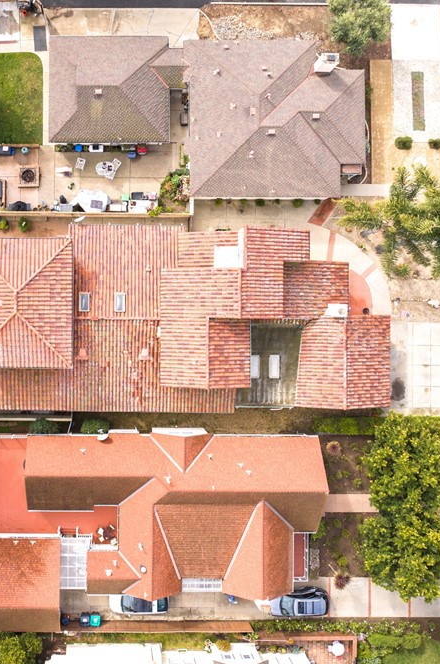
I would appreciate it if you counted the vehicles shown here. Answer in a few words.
two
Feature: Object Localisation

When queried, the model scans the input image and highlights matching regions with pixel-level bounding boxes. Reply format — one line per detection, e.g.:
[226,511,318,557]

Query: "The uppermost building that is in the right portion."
[183,39,366,198]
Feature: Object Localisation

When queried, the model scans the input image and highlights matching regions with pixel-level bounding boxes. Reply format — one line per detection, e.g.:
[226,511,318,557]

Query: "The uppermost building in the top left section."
[48,34,187,145]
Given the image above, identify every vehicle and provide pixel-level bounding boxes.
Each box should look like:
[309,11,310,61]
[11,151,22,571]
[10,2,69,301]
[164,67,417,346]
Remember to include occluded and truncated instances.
[268,589,329,621]
[106,594,166,618]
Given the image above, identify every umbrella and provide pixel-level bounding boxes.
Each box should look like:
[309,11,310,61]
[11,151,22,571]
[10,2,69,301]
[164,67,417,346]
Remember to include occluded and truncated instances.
[330,639,343,655]
[75,183,105,217]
